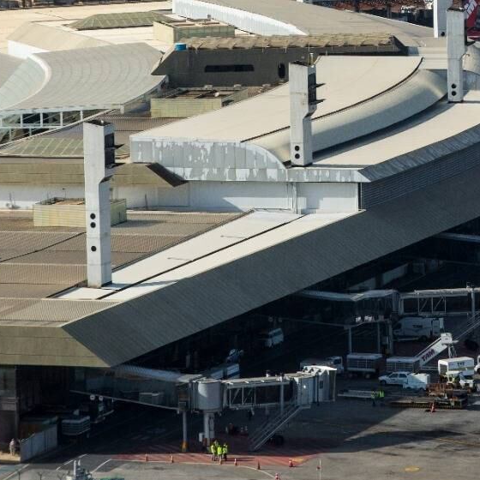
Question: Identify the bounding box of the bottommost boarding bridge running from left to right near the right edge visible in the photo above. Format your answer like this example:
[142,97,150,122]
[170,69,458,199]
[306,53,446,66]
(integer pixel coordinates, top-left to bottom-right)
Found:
[303,287,480,359]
